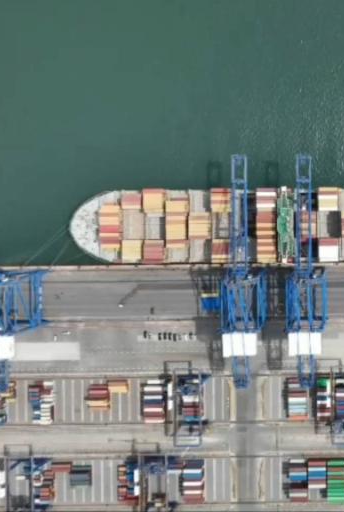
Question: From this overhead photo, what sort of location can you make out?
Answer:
port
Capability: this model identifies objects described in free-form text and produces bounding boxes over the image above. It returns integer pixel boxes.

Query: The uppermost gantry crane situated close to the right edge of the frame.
[285,154,332,387]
